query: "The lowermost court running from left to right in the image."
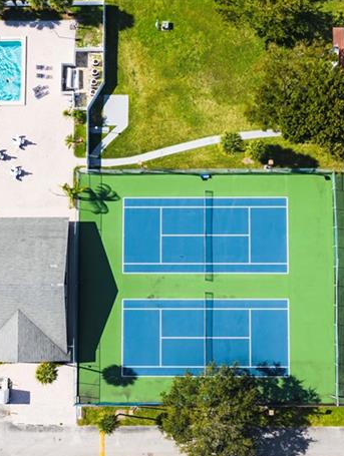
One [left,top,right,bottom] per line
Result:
[77,286,333,404]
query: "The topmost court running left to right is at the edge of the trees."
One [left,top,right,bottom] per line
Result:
[78,171,332,286]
